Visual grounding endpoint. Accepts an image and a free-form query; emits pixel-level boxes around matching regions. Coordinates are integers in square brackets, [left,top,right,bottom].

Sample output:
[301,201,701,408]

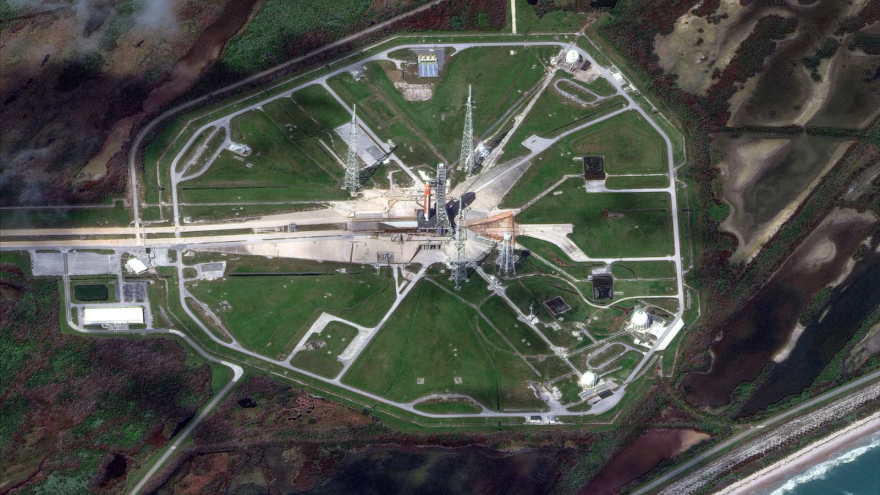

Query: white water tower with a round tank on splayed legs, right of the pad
[498,229,516,278]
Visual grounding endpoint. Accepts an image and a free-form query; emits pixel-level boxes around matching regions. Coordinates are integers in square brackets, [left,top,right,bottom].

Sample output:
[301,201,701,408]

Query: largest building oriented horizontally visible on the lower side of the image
[85,308,144,324]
